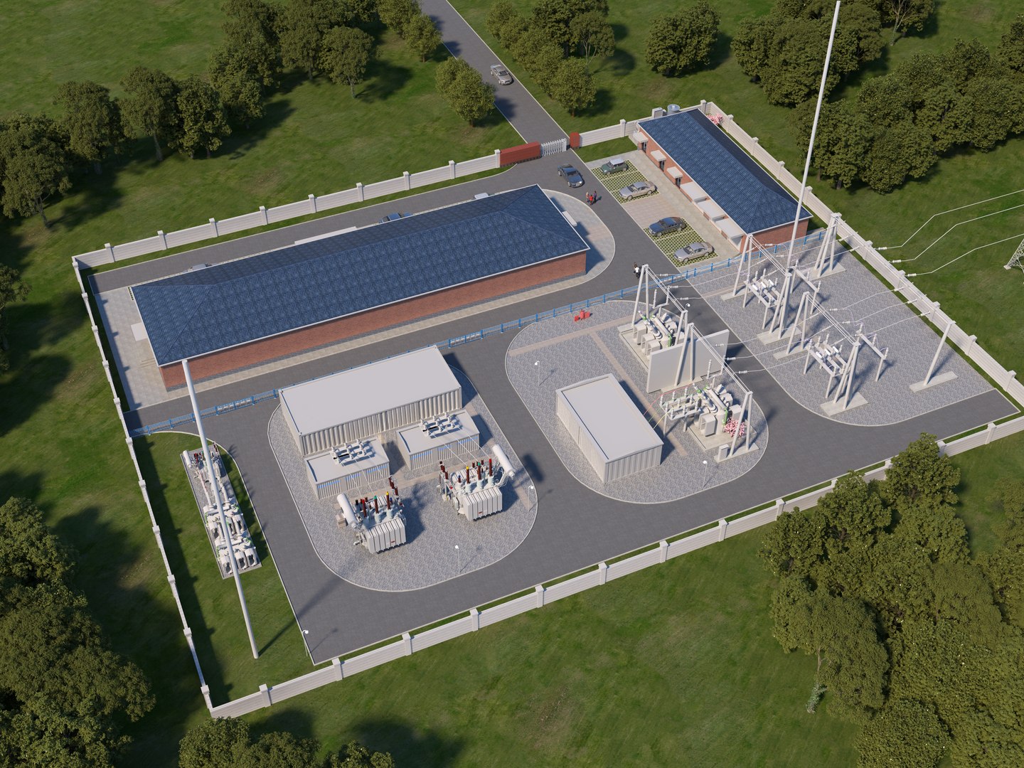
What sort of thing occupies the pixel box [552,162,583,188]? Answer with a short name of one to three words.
car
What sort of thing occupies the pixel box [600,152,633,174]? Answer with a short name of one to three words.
car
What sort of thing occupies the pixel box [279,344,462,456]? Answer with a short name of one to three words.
shipping container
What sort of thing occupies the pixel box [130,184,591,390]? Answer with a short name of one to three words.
building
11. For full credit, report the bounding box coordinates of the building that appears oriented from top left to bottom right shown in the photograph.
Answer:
[629,108,813,256]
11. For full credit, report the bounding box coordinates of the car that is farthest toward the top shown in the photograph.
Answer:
[490,63,513,84]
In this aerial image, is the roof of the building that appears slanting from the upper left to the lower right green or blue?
blue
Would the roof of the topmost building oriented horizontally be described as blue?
Yes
